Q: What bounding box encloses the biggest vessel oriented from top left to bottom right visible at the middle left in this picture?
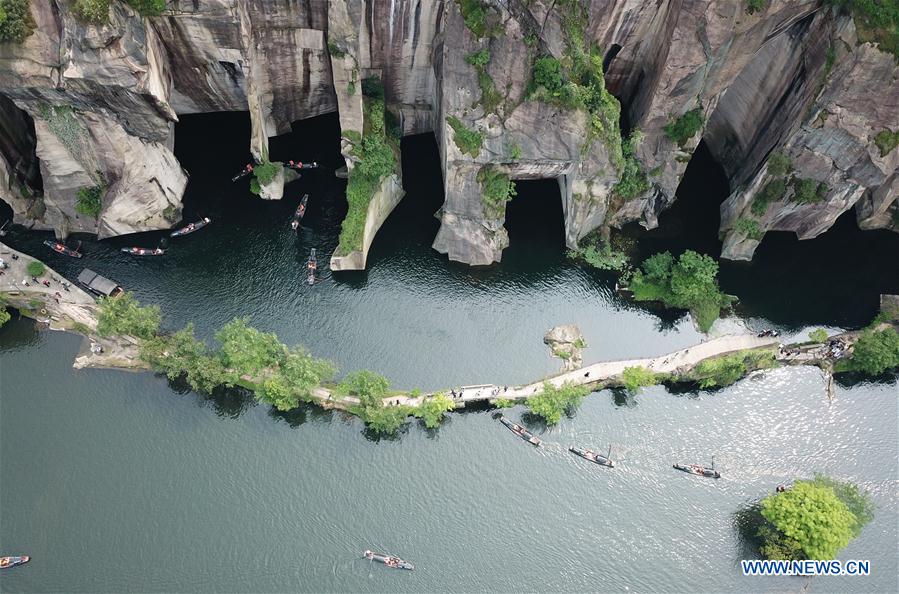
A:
[69,259,126,302]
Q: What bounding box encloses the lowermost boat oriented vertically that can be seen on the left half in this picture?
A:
[308,247,322,285]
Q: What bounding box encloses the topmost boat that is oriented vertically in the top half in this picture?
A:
[292,193,306,233]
